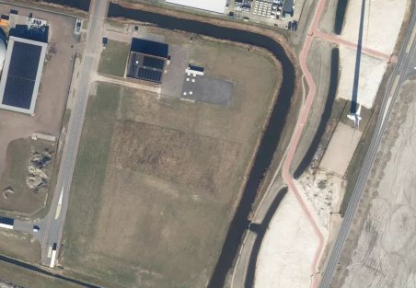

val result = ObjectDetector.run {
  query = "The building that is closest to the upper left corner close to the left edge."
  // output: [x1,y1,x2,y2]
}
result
[0,37,49,115]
